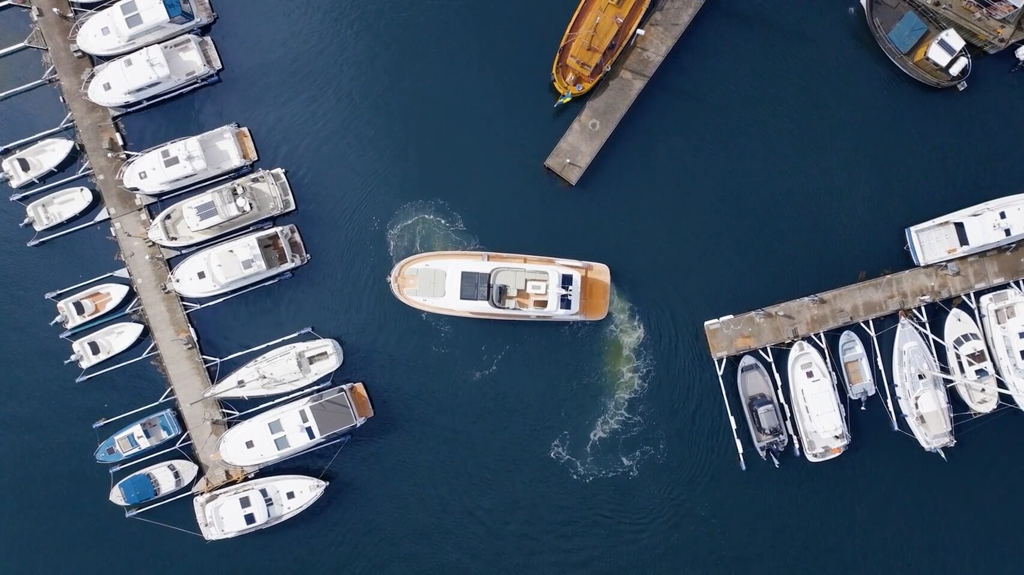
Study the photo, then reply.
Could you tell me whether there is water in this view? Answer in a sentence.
Yes, some water is visible.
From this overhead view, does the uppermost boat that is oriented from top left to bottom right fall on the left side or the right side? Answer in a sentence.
You can find the uppermost boat that is oriented from top left to bottom right on the right side of the picture.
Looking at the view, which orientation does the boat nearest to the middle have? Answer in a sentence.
From this overhead view, the boat nearest to the middle appears to run from side to side.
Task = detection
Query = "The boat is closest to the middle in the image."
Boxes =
[385,249,610,321]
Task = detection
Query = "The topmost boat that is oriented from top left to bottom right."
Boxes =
[838,0,984,92]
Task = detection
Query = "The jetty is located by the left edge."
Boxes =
[31,0,242,480]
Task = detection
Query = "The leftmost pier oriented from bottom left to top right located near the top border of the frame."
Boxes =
[542,0,704,186]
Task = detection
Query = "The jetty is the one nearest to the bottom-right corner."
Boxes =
[702,238,1024,361]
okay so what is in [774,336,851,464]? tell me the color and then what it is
white boat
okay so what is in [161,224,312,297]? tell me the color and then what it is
white boat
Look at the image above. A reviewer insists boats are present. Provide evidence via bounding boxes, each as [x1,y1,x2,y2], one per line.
[971,285,1024,427]
[93,409,187,463]
[734,355,789,469]
[1005,38,1024,70]
[897,194,1024,271]
[0,128,84,194]
[65,0,227,54]
[50,281,133,334]
[774,336,851,464]
[14,185,91,243]
[385,249,610,321]
[823,330,895,427]
[76,36,224,108]
[112,121,262,195]
[130,437,350,539]
[64,324,145,378]
[192,377,376,467]
[838,0,984,92]
[181,331,345,413]
[161,224,312,297]
[109,448,198,514]
[138,168,296,247]
[876,310,1024,464]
